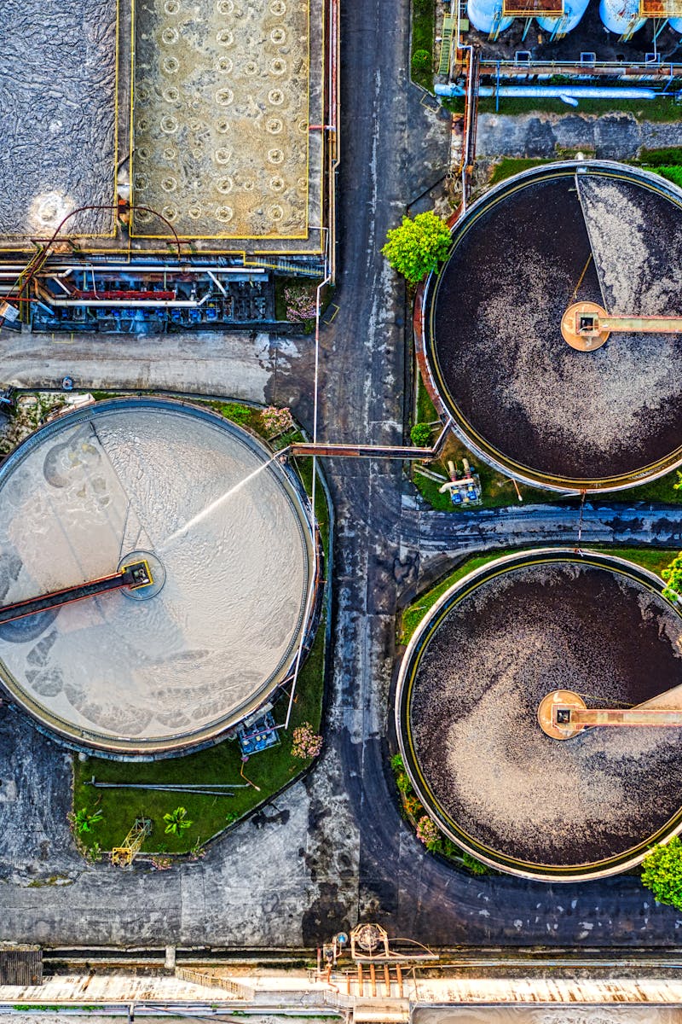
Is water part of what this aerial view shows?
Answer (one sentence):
Yes, the picture does contain water.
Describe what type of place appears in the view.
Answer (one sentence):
It's an industrial area.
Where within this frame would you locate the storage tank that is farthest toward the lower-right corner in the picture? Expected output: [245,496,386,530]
[395,548,682,882]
